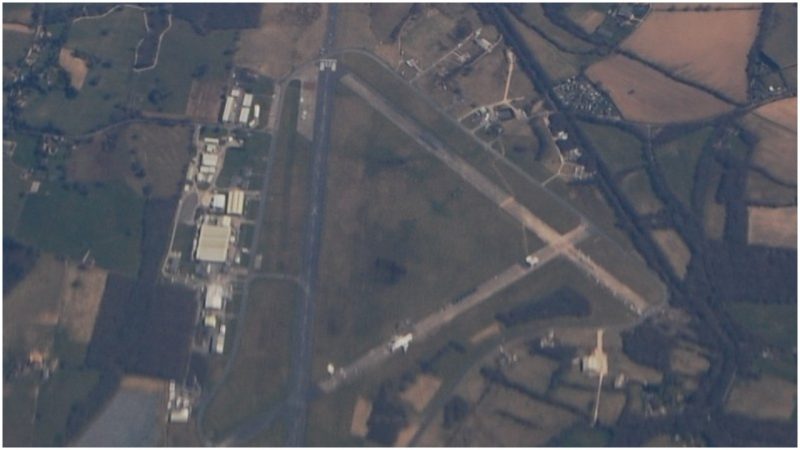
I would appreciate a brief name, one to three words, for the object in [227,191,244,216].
hangar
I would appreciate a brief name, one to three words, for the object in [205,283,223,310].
hangar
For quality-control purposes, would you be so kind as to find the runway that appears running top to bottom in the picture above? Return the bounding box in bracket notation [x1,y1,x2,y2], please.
[286,49,337,450]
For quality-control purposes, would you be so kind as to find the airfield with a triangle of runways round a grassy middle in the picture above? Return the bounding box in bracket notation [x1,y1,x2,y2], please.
[195,0,659,450]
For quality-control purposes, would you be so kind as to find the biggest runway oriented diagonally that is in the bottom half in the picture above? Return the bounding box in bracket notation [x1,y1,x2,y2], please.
[317,223,593,391]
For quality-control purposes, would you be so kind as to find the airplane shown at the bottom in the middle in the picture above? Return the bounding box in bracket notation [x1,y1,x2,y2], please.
[391,334,411,350]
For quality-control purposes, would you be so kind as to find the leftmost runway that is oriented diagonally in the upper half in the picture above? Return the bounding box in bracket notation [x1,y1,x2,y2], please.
[340,74,512,205]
